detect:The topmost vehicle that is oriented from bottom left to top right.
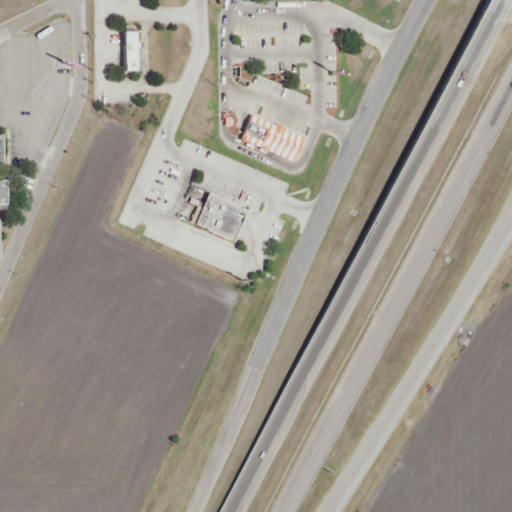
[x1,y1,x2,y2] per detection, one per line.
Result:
[36,24,56,38]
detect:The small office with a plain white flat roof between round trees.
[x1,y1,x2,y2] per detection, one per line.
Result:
[123,25,142,71]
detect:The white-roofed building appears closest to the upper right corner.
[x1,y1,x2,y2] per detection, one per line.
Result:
[240,114,304,161]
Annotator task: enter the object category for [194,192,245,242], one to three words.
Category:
building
